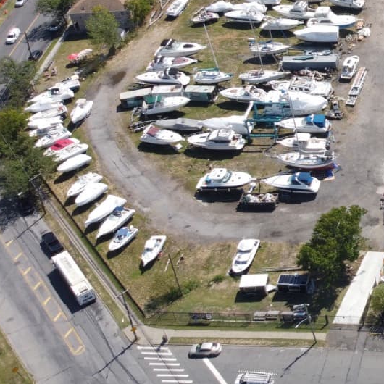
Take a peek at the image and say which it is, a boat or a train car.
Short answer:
boat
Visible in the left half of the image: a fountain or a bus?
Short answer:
bus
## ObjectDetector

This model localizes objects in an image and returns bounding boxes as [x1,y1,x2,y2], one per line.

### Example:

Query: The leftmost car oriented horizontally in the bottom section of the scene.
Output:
[188,342,223,358]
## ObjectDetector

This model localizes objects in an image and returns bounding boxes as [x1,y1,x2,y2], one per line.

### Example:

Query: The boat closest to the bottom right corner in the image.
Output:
[232,239,268,272]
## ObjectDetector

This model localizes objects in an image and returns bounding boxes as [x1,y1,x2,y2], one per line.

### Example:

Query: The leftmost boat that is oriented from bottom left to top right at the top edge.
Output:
[162,0,189,20]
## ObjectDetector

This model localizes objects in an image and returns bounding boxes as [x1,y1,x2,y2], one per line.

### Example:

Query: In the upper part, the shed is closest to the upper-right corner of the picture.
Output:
[185,84,222,102]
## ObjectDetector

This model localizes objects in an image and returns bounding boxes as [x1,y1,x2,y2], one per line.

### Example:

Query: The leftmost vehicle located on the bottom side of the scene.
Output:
[42,231,58,257]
